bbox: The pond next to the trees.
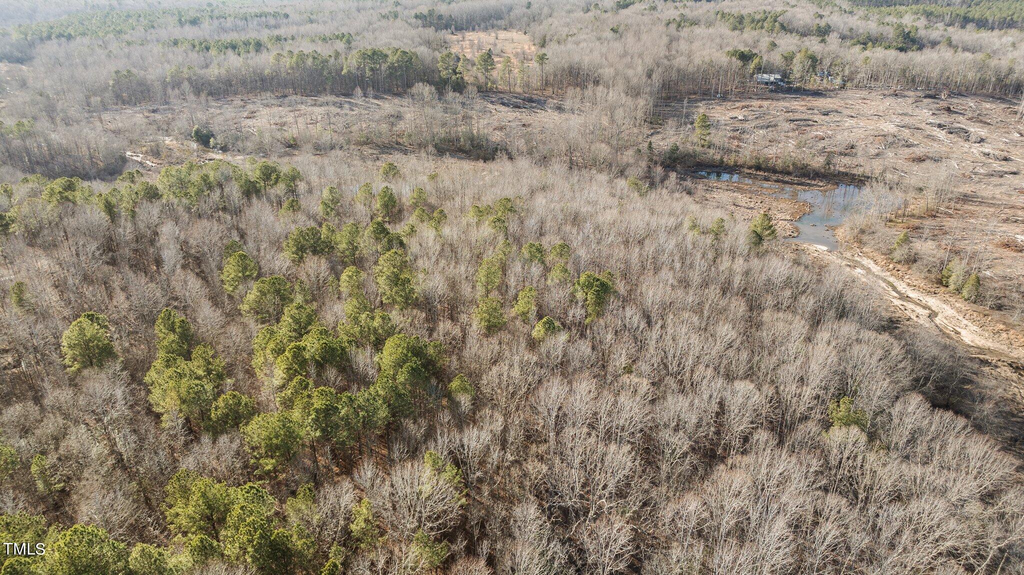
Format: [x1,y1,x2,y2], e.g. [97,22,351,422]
[692,171,892,254]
